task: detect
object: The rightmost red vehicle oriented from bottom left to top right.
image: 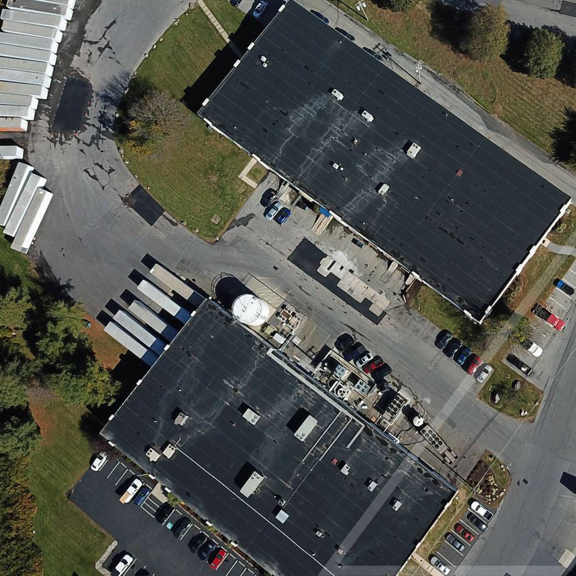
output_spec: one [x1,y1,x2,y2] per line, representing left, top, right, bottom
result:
[463,354,483,375]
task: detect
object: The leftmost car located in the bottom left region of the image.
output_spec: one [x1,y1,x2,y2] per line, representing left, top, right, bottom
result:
[90,450,110,473]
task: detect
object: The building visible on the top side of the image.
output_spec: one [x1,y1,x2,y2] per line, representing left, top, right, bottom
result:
[197,0,571,324]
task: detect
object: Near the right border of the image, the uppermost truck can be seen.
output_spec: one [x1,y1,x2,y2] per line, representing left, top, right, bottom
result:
[553,277,576,298]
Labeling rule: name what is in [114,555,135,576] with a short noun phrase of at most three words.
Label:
car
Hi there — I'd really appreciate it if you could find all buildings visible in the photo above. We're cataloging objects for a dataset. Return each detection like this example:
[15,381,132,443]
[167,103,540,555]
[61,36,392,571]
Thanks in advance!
[197,0,571,324]
[101,299,461,576]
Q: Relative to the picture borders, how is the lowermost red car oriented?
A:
at an angle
